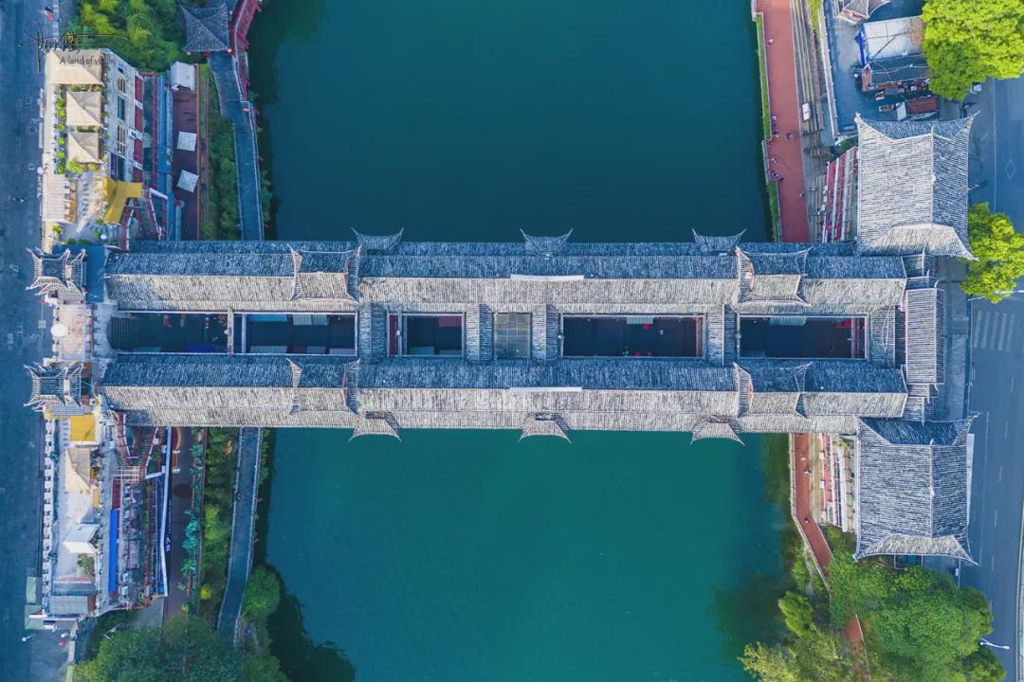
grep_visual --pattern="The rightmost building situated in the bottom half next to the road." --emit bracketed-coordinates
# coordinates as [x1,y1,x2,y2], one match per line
[857,416,980,564]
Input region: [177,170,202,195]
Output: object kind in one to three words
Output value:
tent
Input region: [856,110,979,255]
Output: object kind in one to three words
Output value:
building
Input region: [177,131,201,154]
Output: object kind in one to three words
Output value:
tent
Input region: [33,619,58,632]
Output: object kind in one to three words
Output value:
vehicle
